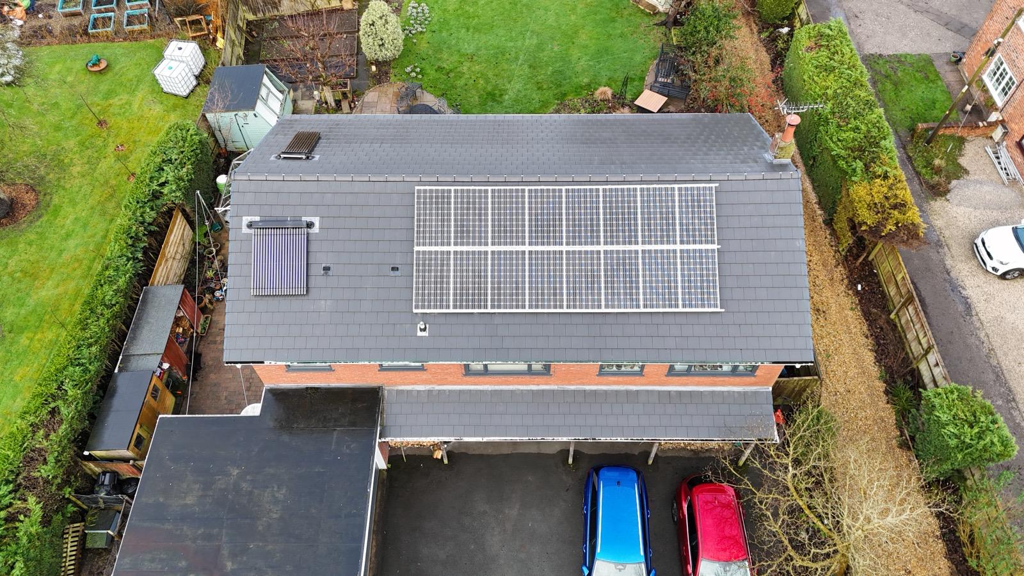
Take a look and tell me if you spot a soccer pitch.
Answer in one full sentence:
No, I can see no soccer pitch in this picture.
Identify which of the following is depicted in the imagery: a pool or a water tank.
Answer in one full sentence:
Of the two, only a water tank appears.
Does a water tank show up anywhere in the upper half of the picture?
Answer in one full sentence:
Yes, a water tank shows up in the upper half of the picture.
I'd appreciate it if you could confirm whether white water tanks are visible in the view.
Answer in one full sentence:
Yes, the image includes a white water tank.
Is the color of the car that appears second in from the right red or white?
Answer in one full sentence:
From above, the car that appears second in from the right appears red.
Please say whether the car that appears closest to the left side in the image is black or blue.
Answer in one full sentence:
The car that appears closest to the left side is blue.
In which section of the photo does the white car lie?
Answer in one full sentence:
Look in the right portion of the view to spot the white car.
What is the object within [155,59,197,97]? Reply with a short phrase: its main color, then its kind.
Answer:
white water tank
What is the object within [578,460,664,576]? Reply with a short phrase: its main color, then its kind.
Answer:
blue car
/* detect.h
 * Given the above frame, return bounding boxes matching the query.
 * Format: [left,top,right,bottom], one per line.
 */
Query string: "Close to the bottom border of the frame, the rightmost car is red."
[673,477,759,576]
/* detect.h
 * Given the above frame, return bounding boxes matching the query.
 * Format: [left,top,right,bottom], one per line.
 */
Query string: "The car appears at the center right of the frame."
[972,207,1024,279]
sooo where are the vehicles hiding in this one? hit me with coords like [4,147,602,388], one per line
[673,477,759,576]
[972,207,1024,279]
[578,460,664,576]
